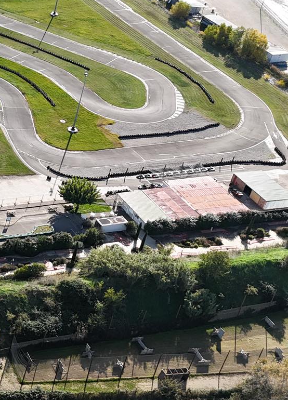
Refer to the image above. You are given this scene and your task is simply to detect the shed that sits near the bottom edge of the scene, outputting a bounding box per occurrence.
[157,368,190,385]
